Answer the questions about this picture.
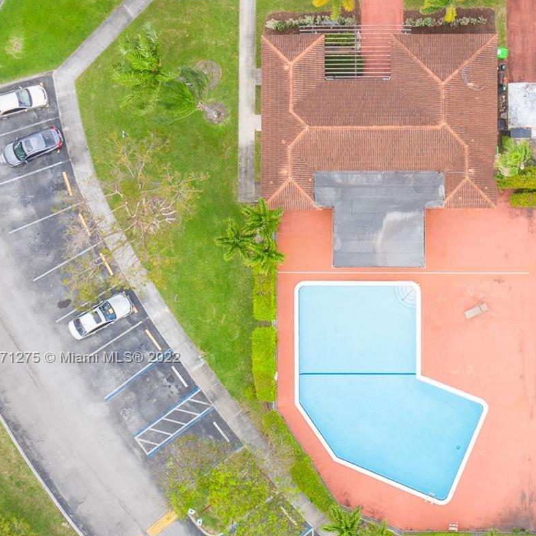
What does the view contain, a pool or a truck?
pool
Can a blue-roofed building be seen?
No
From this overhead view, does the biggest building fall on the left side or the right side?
right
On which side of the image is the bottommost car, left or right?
left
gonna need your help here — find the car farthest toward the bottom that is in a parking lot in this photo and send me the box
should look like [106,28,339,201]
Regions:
[65,290,137,341]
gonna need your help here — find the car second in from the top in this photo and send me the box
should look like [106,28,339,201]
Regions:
[2,128,67,167]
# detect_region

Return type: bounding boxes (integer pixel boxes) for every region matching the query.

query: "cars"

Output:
[2,128,67,167]
[0,83,51,119]
[65,290,137,341]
